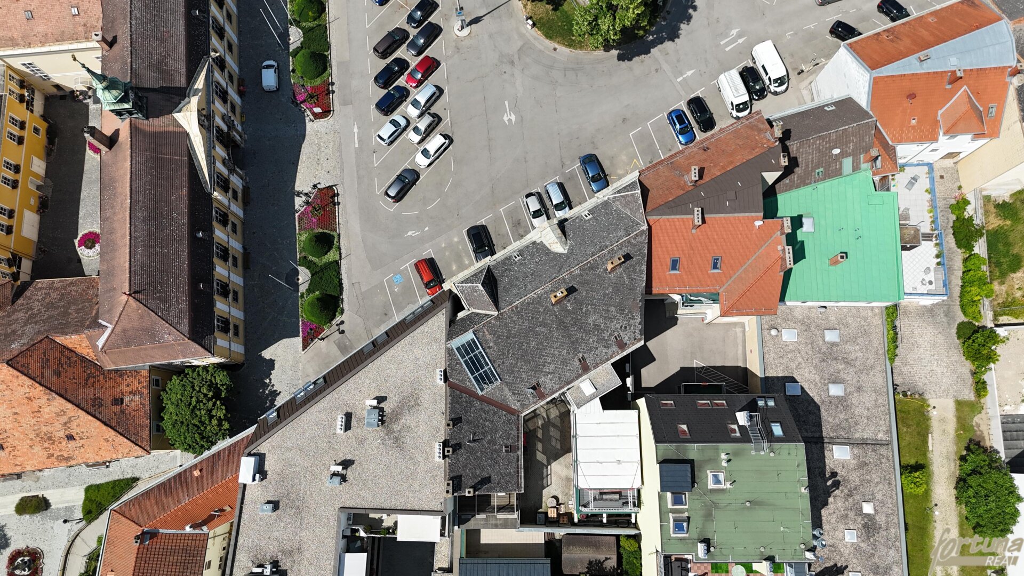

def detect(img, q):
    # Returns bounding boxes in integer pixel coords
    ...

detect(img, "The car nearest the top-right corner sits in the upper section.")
[872,0,911,22]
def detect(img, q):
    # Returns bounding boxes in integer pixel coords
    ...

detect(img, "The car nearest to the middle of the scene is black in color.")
[465,221,497,263]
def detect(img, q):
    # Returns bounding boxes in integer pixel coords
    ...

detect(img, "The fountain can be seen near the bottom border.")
[3,544,42,576]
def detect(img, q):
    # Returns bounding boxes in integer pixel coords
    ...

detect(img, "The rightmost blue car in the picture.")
[665,106,696,148]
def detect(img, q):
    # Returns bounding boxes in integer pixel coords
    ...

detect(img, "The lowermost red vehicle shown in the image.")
[413,255,447,300]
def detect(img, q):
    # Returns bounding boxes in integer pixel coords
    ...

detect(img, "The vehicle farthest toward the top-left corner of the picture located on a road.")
[259,59,281,97]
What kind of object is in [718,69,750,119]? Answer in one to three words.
van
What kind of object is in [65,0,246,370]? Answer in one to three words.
building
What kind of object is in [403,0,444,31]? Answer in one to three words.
car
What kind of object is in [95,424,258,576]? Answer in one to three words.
house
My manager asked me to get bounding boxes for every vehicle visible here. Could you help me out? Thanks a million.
[665,106,696,148]
[872,0,911,22]
[577,151,609,196]
[372,58,412,90]
[404,55,442,89]
[370,27,413,60]
[465,221,497,263]
[373,115,413,148]
[740,64,769,103]
[405,109,446,147]
[750,38,789,96]
[415,132,453,168]
[718,69,750,119]
[405,22,447,57]
[518,188,551,232]
[541,177,573,220]
[684,94,717,136]
[403,0,444,31]
[259,59,281,97]
[413,255,447,300]
[373,86,412,118]
[382,169,422,204]
[825,18,859,43]
[404,82,445,120]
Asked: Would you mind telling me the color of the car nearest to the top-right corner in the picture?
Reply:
black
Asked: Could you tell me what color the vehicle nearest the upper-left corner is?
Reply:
blue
